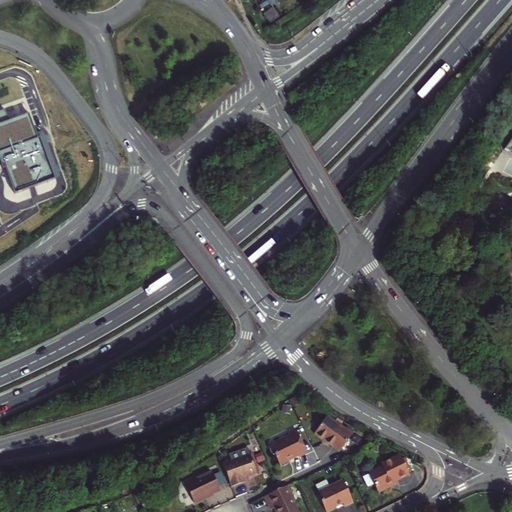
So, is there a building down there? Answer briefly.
Yes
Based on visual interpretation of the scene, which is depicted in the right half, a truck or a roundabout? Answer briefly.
truck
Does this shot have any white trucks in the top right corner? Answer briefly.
Yes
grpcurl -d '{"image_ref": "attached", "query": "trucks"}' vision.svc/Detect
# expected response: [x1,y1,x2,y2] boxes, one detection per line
[417,62,452,98]
[144,274,174,295]
[248,238,274,262]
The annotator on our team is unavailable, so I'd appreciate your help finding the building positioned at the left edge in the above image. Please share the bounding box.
[0,107,54,190]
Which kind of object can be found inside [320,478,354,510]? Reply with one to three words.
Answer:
house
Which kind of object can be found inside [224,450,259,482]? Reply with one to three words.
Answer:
house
